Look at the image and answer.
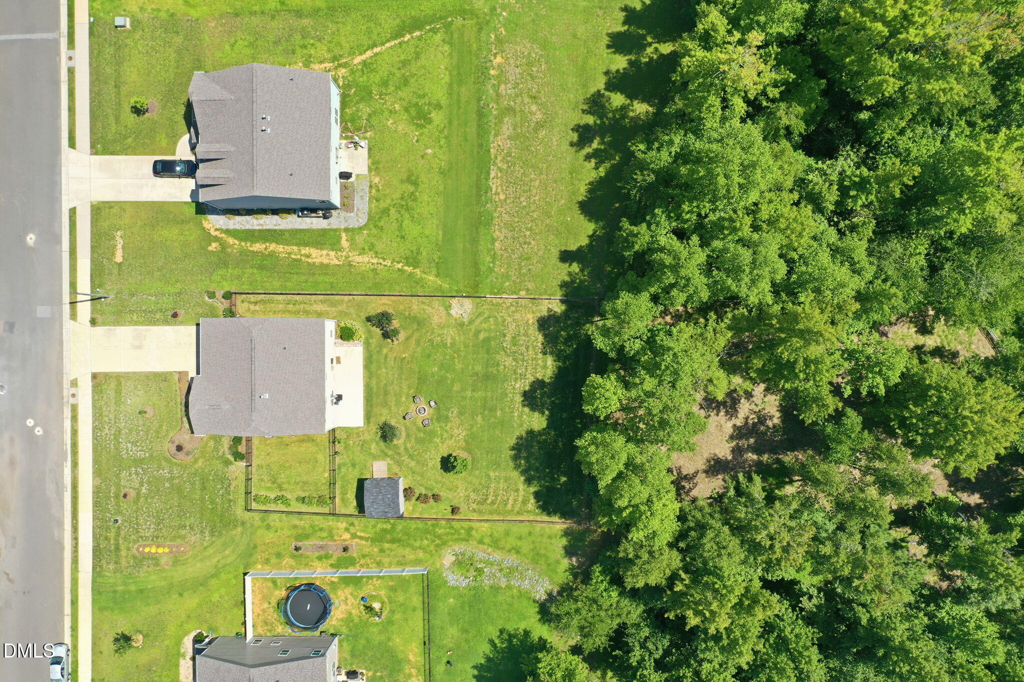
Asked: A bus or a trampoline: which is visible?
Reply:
trampoline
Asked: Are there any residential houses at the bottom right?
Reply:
No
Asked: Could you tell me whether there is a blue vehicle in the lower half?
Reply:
No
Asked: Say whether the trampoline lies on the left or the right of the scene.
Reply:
left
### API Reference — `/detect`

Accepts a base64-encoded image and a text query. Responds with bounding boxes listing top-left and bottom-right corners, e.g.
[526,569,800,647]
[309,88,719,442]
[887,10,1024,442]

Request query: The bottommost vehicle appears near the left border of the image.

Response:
[47,642,71,682]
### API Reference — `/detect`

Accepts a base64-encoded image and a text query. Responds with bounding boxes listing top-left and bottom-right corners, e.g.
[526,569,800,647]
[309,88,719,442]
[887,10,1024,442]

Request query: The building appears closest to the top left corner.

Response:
[189,63,343,208]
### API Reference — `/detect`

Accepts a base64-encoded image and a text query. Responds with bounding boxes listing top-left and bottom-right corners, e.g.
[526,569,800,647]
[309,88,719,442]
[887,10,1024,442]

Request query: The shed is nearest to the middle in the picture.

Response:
[363,476,402,516]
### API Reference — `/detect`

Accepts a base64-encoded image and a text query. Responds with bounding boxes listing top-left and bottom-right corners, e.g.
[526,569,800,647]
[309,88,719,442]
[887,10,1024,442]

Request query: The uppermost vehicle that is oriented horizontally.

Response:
[152,157,199,179]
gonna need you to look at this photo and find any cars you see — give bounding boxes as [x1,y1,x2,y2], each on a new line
[152,157,199,179]
[47,642,71,682]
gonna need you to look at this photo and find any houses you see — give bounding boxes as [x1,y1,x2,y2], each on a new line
[189,63,343,208]
[188,317,339,437]
[194,636,341,682]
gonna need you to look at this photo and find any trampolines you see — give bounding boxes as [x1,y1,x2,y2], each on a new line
[280,585,330,636]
